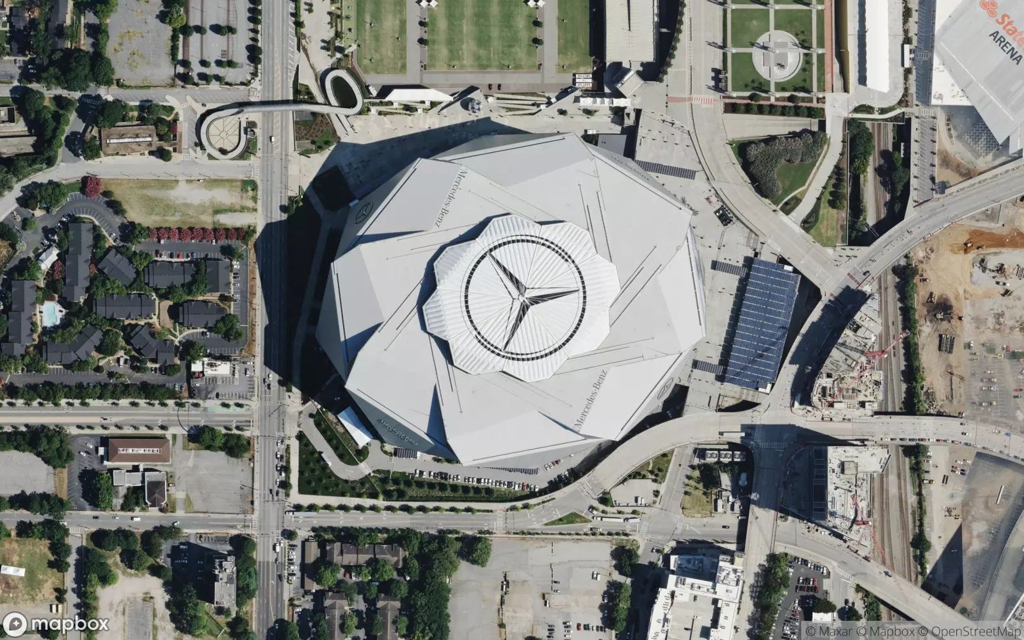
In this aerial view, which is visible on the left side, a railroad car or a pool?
pool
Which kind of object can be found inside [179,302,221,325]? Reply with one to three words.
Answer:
building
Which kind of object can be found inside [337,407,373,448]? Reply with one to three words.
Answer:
building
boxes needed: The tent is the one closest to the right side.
[864,0,888,93]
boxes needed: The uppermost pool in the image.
[39,301,66,327]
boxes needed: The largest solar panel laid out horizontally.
[638,160,696,179]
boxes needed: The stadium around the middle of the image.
[315,133,705,471]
